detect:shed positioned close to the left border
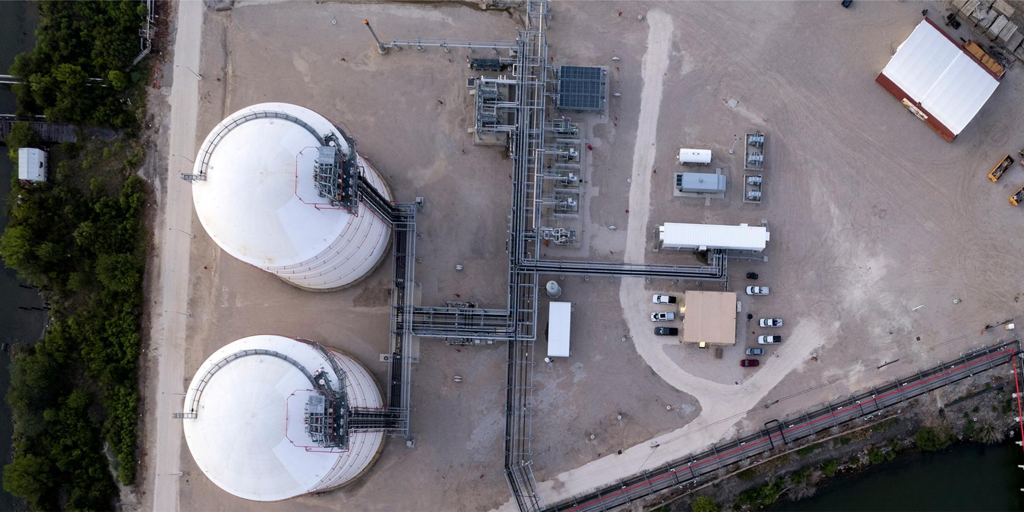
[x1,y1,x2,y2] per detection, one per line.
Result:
[18,147,56,185]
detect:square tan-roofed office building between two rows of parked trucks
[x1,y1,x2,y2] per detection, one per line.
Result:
[679,291,736,348]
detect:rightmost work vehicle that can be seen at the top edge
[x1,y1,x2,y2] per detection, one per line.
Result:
[951,14,963,29]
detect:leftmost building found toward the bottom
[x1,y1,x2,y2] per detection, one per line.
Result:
[546,302,572,357]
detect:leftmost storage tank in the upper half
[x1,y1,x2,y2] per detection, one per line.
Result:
[168,101,413,290]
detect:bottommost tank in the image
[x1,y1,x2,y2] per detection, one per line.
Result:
[164,333,407,503]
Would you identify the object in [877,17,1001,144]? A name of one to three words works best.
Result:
hangar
